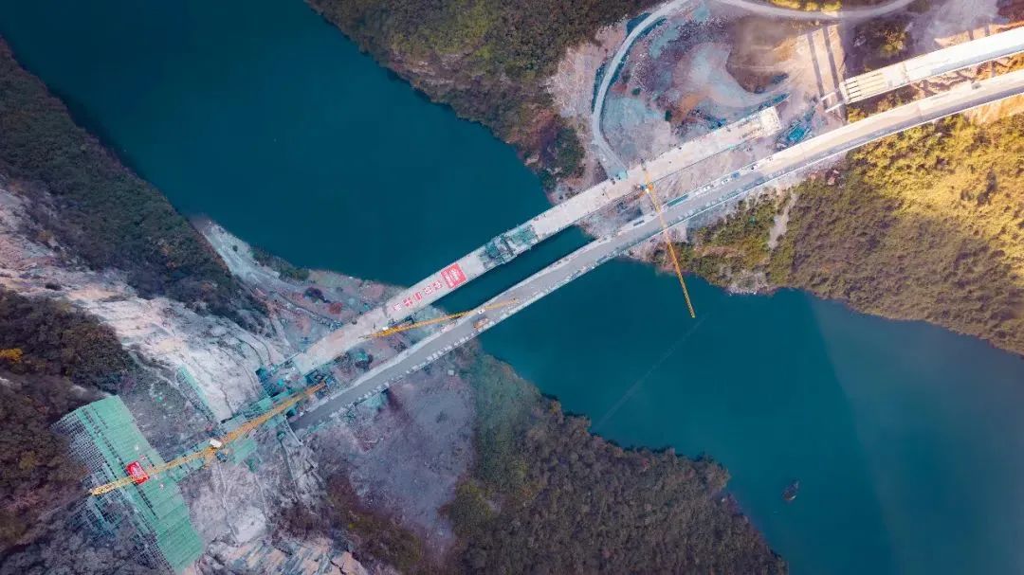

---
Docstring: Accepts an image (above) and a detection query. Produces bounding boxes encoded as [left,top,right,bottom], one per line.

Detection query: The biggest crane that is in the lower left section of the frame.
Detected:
[87,383,326,495]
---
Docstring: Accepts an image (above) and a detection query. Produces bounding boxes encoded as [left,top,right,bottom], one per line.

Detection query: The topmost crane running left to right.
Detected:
[360,299,518,341]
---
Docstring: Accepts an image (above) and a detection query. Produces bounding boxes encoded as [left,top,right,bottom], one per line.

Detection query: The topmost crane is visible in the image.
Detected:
[617,162,695,318]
